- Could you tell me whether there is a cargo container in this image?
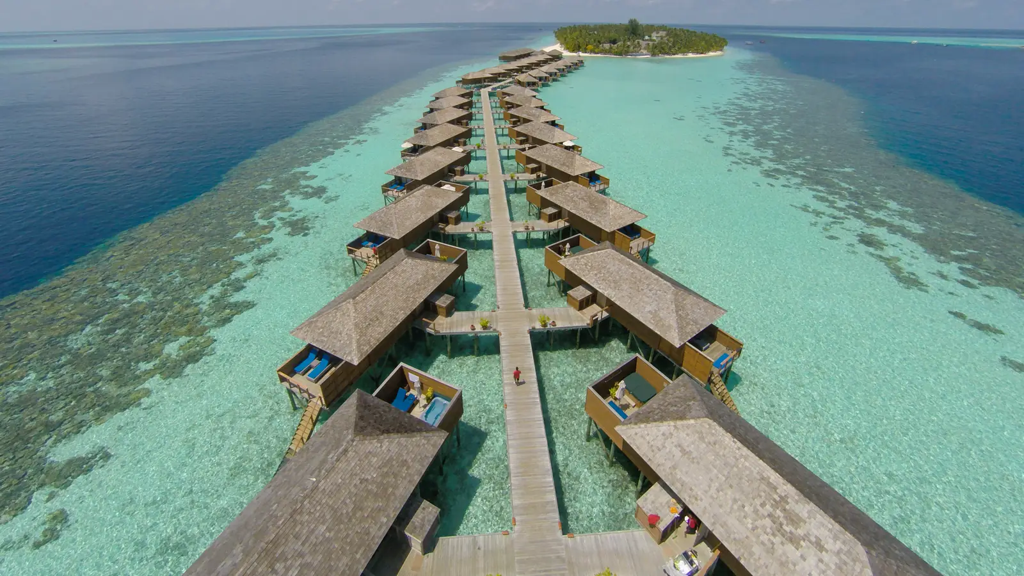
No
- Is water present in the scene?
Yes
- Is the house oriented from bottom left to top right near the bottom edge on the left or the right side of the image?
left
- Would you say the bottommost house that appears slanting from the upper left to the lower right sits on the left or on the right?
right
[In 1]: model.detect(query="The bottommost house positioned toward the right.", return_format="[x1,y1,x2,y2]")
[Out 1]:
[584,352,955,576]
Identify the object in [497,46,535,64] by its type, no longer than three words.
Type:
building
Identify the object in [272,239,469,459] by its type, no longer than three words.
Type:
house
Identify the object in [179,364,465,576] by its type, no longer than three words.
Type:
house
